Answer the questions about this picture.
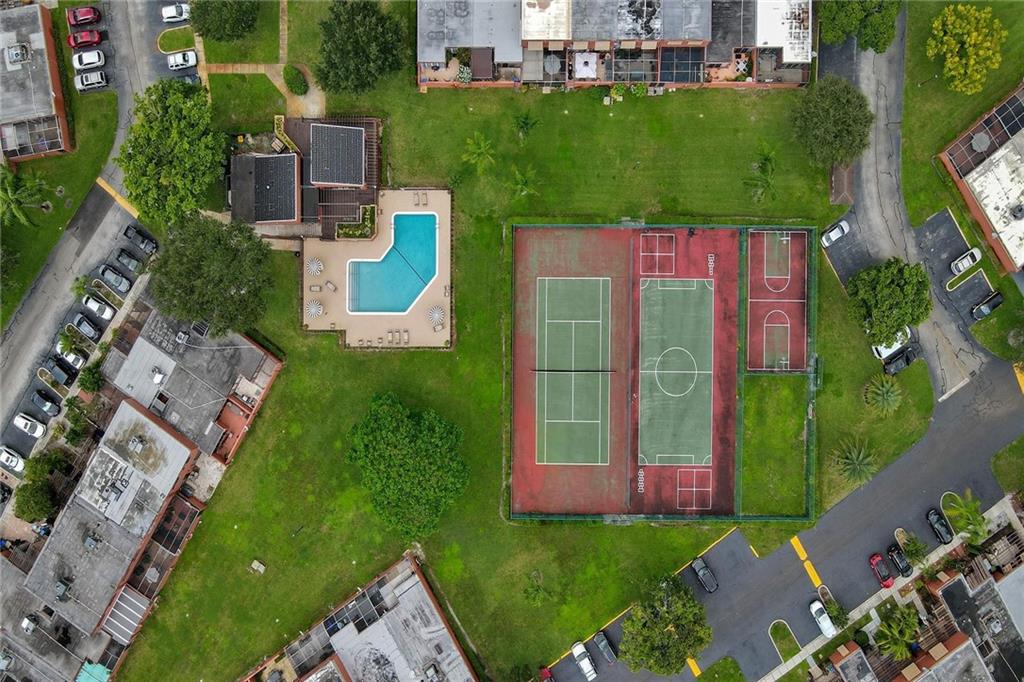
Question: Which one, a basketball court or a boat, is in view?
basketball court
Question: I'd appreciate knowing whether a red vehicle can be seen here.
Yes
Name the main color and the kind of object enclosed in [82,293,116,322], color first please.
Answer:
white car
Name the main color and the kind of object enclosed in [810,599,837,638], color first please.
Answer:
white car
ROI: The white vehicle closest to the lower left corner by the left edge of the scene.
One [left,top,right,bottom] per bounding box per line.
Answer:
[0,445,27,473]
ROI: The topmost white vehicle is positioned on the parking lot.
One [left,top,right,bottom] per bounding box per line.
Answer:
[159,2,194,24]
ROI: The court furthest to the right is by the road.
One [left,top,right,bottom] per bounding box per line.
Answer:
[745,226,815,374]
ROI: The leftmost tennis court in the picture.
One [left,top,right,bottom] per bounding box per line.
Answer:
[511,227,632,515]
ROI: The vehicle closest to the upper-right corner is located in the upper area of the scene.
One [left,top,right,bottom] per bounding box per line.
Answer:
[949,247,981,274]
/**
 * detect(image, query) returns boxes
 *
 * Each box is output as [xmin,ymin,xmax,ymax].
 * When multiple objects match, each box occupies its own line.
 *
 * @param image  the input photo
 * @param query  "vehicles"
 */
[67,5,103,27]
[170,68,204,88]
[949,247,981,274]
[159,2,194,24]
[594,630,618,664]
[71,311,104,342]
[121,222,158,255]
[73,70,109,91]
[30,388,63,418]
[165,50,200,72]
[115,246,147,276]
[82,293,116,322]
[98,263,132,294]
[68,31,103,50]
[869,553,894,587]
[40,355,77,390]
[0,445,27,473]
[818,220,850,248]
[54,343,87,371]
[0,483,15,507]
[14,411,48,439]
[573,639,598,681]
[869,334,908,361]
[692,557,720,594]
[925,508,954,544]
[810,599,837,638]
[886,543,913,578]
[72,50,107,70]
[882,347,918,376]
